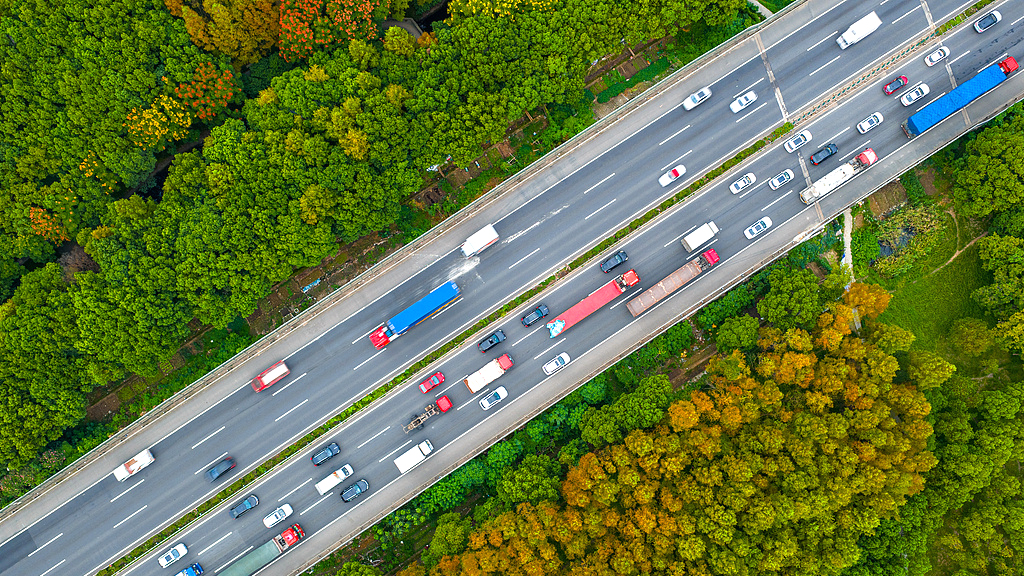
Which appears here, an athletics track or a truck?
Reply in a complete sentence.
This aerial view contains a truck.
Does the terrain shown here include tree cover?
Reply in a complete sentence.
Yes, there is tree cover in the image.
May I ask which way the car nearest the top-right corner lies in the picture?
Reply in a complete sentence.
From this overhead view, the car nearest the top-right corner appears to run at an angle.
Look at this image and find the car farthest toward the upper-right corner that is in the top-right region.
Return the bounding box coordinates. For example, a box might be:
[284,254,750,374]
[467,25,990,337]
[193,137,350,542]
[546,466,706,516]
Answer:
[972,11,1001,35]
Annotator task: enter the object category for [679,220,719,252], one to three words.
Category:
truck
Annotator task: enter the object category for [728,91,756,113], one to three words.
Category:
car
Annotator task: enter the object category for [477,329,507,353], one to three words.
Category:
car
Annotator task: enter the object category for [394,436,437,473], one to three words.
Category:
truck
